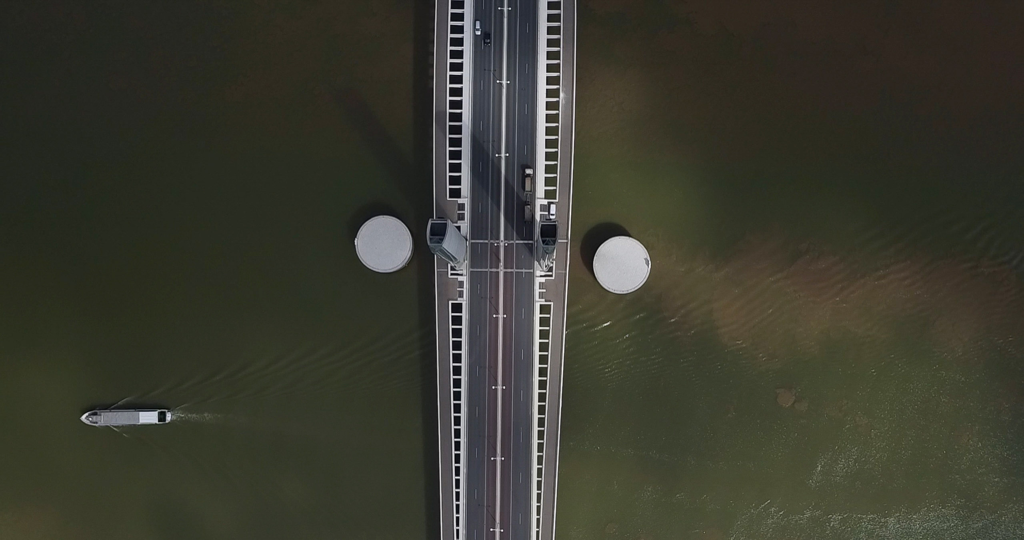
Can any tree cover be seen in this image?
No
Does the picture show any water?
Yes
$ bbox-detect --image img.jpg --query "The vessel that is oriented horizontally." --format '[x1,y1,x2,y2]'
[79,409,173,425]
